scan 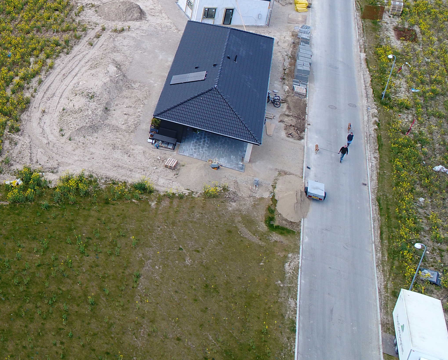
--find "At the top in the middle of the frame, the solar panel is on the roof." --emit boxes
[185,68,204,86]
